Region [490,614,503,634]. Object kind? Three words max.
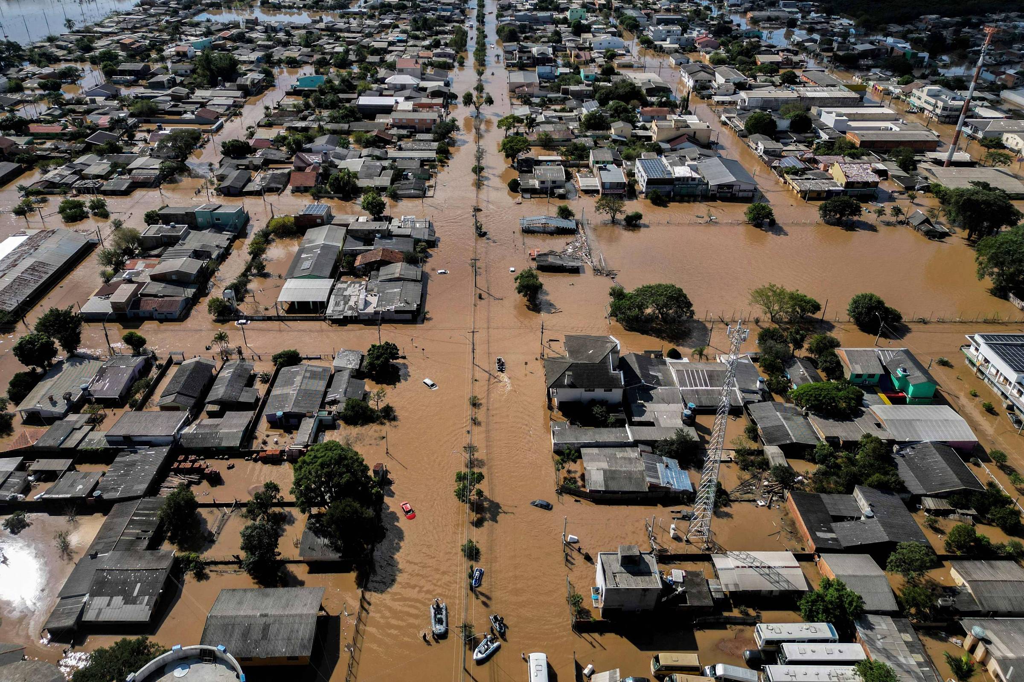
boat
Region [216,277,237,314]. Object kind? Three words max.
water tower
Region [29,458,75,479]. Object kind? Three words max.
shed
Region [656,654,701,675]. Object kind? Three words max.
vehicle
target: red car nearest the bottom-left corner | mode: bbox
[400,502,416,522]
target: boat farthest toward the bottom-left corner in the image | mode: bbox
[428,597,448,635]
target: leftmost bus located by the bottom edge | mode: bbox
[527,655,547,682]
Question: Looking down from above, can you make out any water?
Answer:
Yes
